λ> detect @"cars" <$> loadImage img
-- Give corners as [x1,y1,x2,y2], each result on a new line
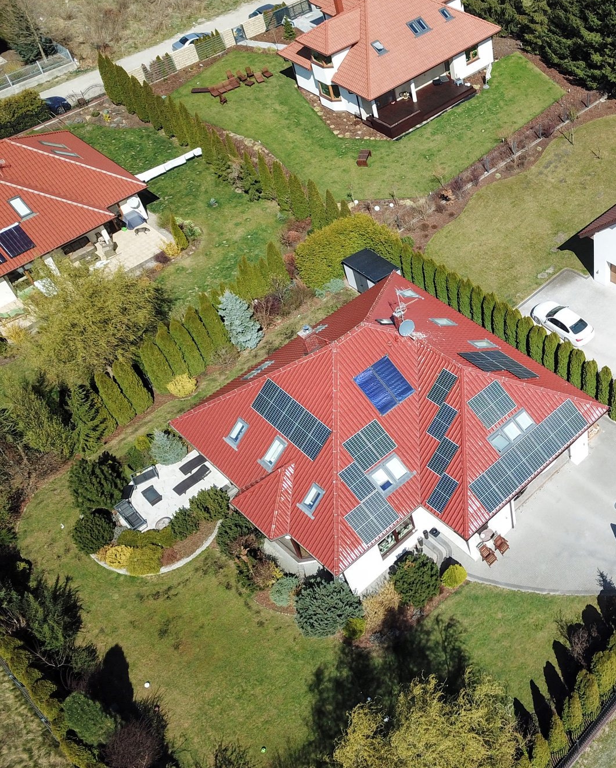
[247,0,293,23]
[169,27,214,51]
[17,94,75,126]
[523,295,593,344]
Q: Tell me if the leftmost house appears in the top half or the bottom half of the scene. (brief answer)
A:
top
